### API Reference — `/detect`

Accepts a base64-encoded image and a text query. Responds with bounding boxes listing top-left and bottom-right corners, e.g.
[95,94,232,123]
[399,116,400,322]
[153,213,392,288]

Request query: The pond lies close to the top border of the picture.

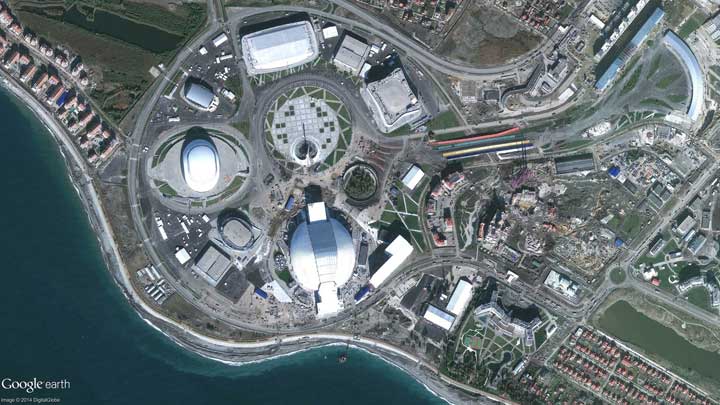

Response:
[64,4,185,53]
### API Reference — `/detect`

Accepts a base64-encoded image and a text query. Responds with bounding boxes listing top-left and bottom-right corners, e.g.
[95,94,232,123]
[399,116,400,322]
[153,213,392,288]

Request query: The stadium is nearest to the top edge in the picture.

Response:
[242,20,319,75]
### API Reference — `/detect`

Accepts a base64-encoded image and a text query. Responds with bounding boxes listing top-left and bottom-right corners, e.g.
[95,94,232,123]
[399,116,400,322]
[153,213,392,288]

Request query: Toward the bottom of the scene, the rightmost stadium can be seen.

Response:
[290,202,356,319]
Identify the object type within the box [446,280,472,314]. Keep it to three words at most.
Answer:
building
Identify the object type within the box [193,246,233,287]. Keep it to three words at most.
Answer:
building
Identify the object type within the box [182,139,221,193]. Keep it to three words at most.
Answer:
stadium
